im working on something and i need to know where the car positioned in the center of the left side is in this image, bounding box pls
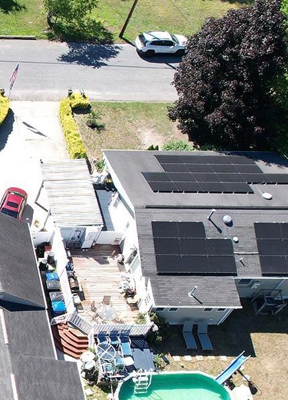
[0,185,30,219]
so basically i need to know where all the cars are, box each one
[129,31,192,63]
[0,185,30,219]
